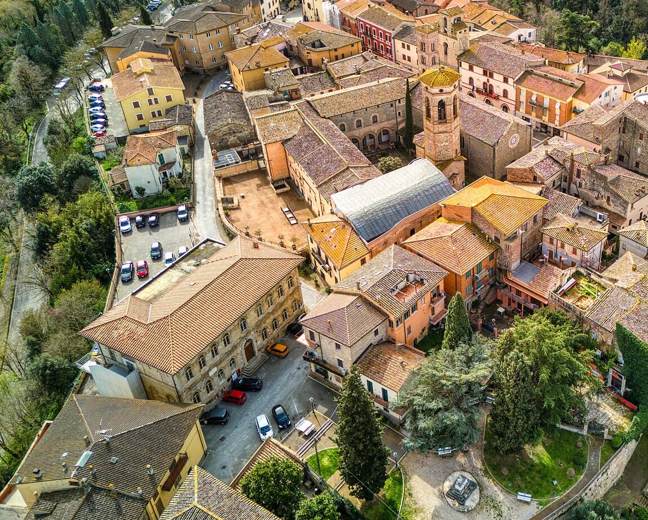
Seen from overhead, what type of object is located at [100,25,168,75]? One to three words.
house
